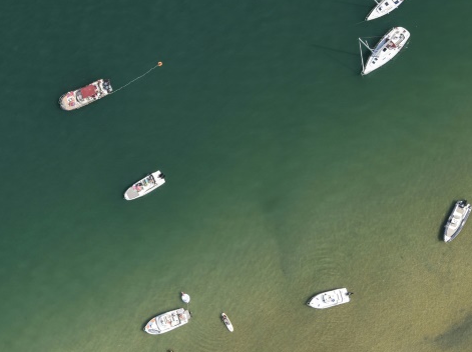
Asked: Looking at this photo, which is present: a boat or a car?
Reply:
boat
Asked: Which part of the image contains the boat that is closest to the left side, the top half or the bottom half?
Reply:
top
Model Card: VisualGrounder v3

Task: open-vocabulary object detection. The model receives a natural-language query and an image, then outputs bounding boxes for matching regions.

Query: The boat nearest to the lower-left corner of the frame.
[142,308,193,333]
